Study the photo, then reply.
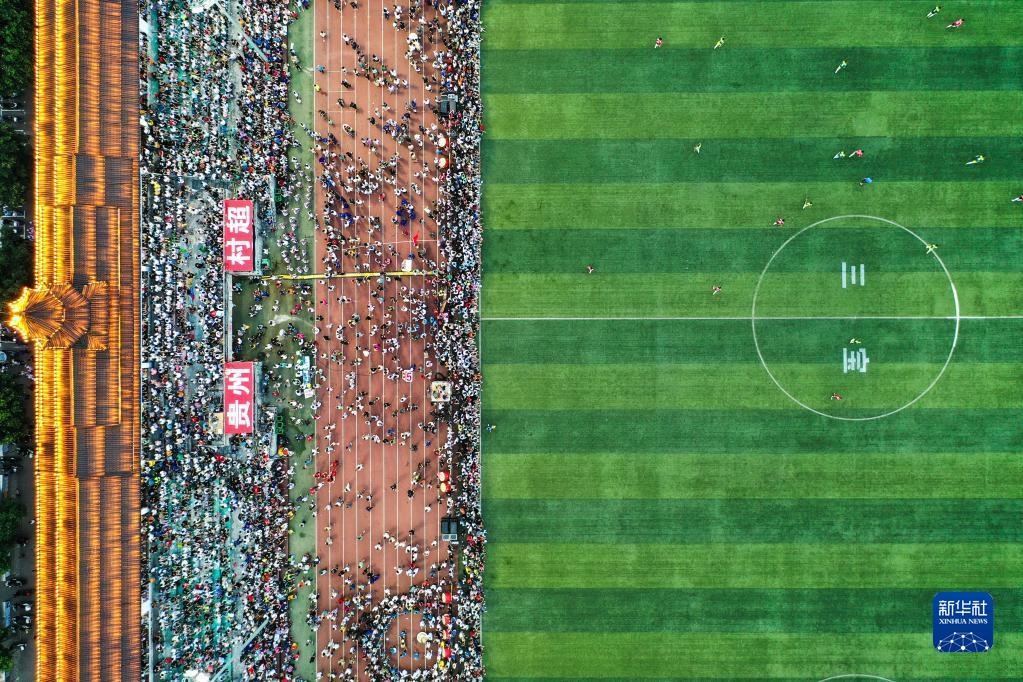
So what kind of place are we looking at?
sports ground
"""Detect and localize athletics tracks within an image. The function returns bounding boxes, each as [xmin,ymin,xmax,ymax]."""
[314,0,456,682]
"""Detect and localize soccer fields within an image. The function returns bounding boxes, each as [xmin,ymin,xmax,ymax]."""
[481,0,1023,682]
